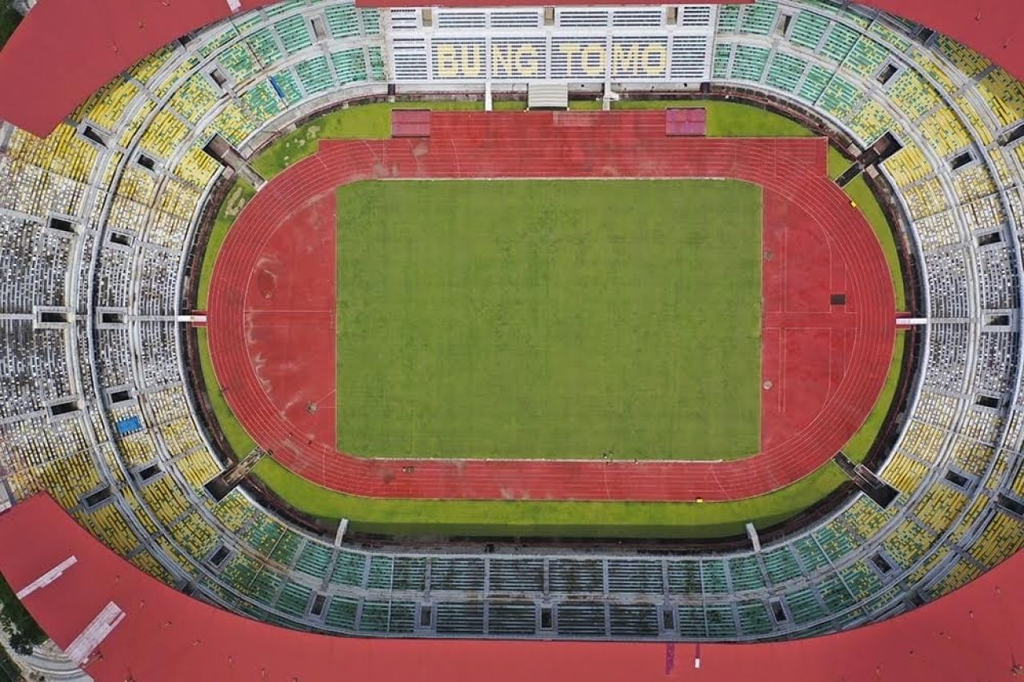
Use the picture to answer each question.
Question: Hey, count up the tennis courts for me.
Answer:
zero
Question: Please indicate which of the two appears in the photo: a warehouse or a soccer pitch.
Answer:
soccer pitch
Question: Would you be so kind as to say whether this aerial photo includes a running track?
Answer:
Yes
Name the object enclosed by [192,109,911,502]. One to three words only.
running track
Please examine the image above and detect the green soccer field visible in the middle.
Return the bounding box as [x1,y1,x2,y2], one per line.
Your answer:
[336,177,761,462]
